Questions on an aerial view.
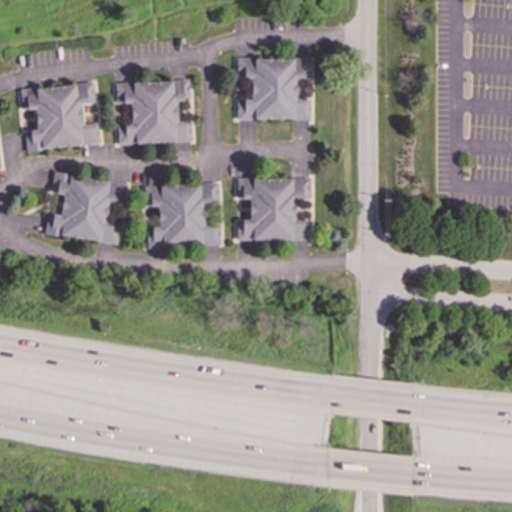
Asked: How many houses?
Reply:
6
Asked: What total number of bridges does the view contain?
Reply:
2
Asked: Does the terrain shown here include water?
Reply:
No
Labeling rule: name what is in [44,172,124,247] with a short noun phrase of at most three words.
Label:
house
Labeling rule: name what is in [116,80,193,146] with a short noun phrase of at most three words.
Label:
house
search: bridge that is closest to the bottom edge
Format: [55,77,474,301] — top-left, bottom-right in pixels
[324,446,420,496]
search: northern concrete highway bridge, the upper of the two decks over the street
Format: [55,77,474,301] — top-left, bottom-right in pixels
[324,372,420,425]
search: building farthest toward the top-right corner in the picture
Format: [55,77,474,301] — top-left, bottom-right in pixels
[238,57,313,122]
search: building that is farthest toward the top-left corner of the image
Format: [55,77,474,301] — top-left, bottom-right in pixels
[20,80,102,153]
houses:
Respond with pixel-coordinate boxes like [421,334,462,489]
[238,57,313,122]
[146,180,222,248]
[116,80,193,146]
[44,172,124,247]
[20,80,102,153]
[238,178,313,242]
